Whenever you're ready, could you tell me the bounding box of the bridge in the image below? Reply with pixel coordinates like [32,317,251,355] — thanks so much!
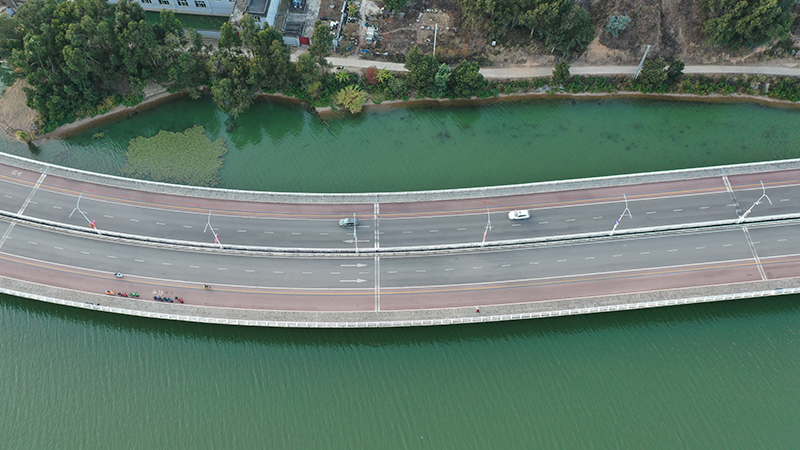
[0,154,800,330]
